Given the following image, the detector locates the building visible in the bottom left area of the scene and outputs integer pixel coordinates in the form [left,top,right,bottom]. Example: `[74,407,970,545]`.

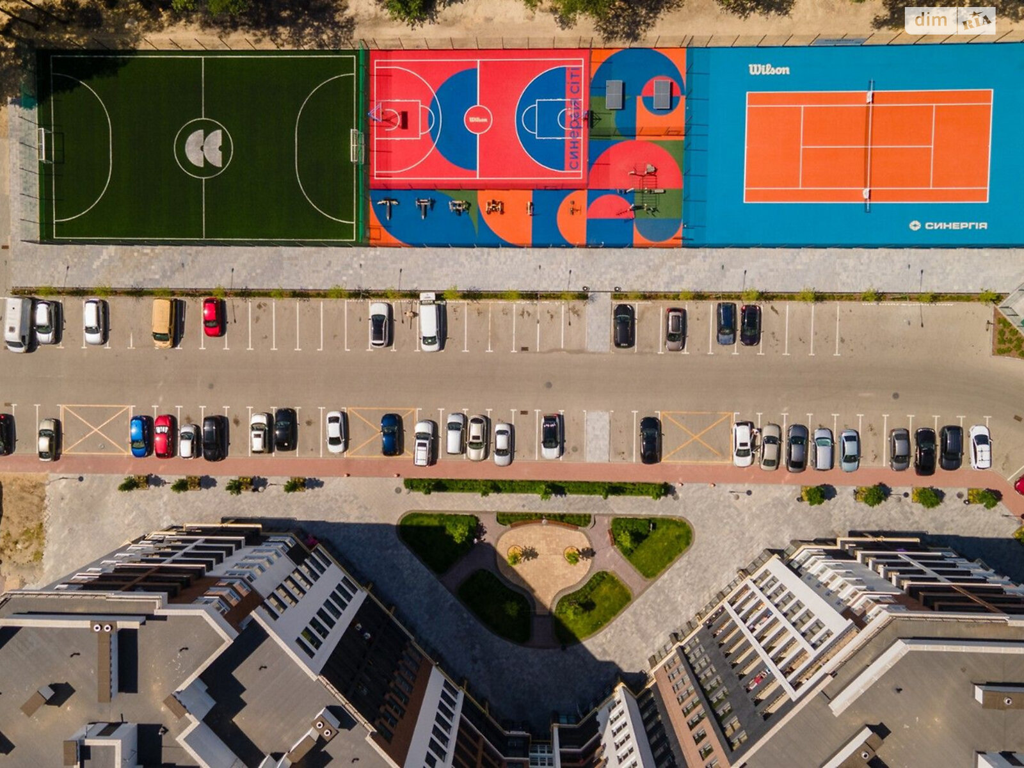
[0,518,552,768]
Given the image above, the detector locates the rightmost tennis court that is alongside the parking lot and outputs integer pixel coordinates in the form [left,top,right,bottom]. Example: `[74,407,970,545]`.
[684,42,1024,248]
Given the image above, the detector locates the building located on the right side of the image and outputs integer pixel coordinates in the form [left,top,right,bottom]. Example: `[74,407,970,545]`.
[549,532,1024,768]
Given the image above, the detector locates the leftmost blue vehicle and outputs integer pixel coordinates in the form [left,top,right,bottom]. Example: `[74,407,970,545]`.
[129,415,151,456]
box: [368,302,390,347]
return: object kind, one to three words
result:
car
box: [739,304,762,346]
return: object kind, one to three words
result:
car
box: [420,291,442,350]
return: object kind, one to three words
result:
vehicle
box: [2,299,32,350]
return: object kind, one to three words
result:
vehicle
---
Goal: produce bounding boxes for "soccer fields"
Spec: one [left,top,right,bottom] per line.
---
[40,49,369,246]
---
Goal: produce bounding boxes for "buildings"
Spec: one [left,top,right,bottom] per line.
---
[0,518,552,768]
[549,532,1024,768]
